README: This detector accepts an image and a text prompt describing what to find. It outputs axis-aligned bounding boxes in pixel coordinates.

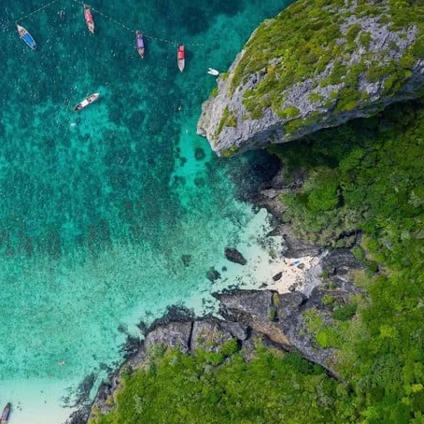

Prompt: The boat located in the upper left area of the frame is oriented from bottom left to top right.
[71,91,100,112]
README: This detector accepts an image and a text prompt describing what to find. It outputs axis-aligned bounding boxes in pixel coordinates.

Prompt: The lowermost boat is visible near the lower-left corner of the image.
[0,394,15,424]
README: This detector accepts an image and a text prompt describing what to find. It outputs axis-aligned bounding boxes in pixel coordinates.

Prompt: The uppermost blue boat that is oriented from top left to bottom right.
[16,21,37,50]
